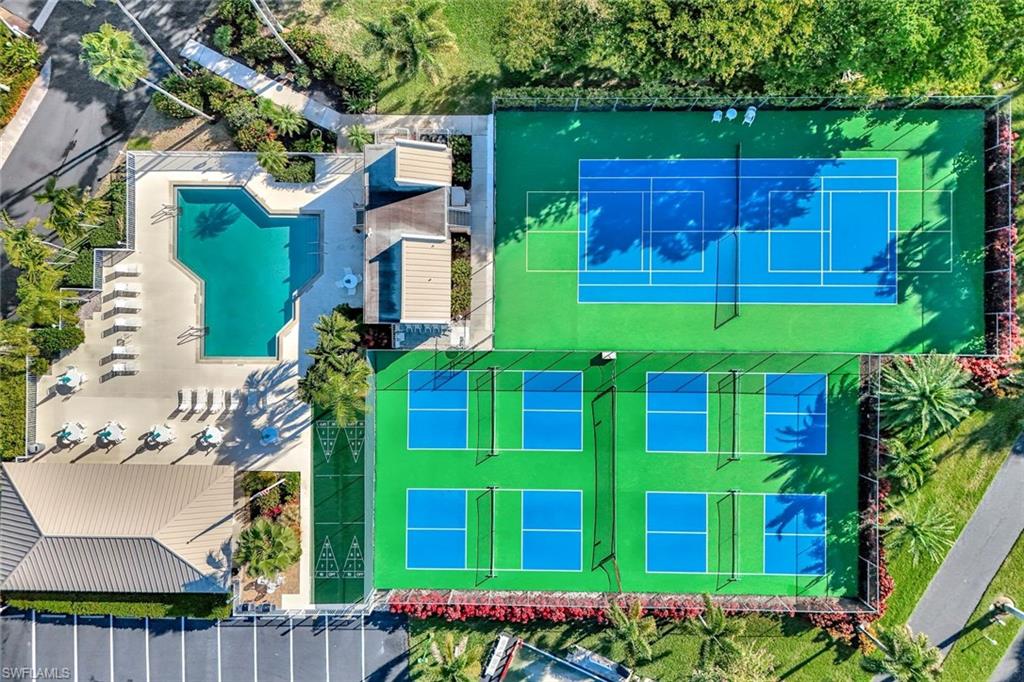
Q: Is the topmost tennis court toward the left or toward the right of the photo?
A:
right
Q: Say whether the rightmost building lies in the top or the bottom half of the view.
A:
top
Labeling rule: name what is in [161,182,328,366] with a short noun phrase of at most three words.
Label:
swimming pool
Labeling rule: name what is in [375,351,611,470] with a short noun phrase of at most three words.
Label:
sports court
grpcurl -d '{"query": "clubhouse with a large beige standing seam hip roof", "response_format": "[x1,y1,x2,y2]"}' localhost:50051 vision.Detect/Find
[0,464,239,593]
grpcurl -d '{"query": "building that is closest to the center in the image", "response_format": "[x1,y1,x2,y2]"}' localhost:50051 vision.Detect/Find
[365,140,452,325]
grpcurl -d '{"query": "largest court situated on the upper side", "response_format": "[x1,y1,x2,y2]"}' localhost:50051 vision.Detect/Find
[494,110,985,355]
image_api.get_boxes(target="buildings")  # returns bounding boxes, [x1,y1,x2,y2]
[365,140,452,325]
[0,464,239,593]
